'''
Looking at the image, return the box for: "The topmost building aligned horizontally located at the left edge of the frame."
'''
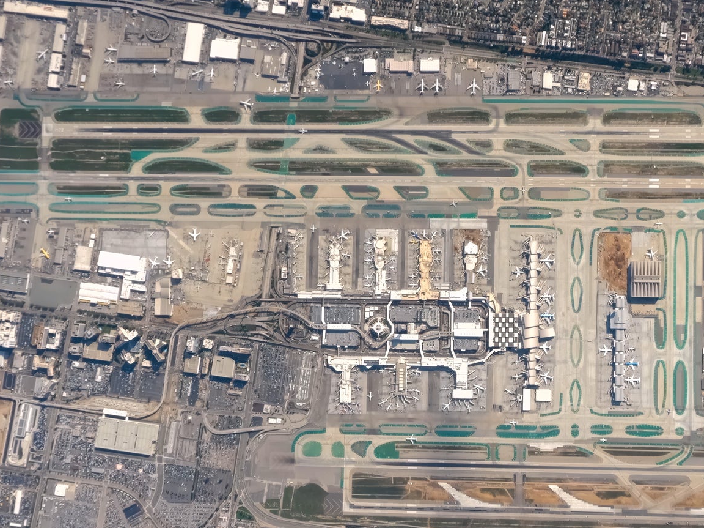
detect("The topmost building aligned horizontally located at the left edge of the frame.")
[3,1,69,19]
